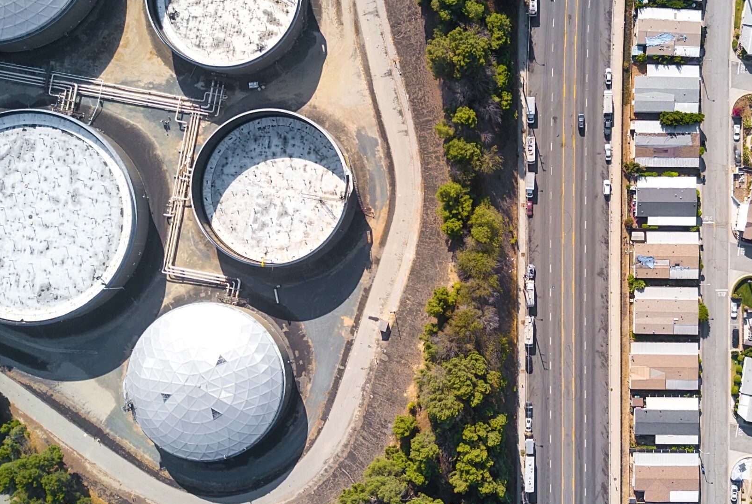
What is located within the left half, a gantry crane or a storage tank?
storage tank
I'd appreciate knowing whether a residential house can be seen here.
Yes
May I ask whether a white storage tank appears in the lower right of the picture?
No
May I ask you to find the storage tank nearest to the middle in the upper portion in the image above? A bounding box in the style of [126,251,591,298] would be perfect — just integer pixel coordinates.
[192,109,351,271]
